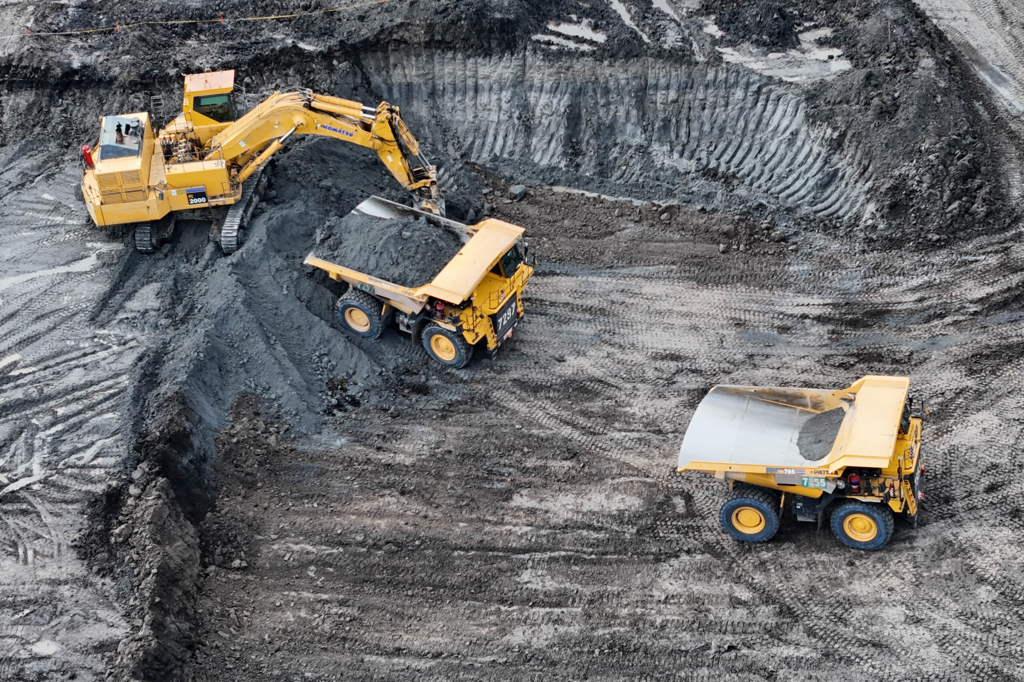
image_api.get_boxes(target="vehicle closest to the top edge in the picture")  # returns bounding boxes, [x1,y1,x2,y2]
[81,66,446,250]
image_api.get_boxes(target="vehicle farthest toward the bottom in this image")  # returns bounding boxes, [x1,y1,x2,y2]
[680,376,929,550]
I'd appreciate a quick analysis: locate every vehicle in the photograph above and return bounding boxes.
[81,66,446,250]
[680,376,929,550]
[304,199,541,368]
